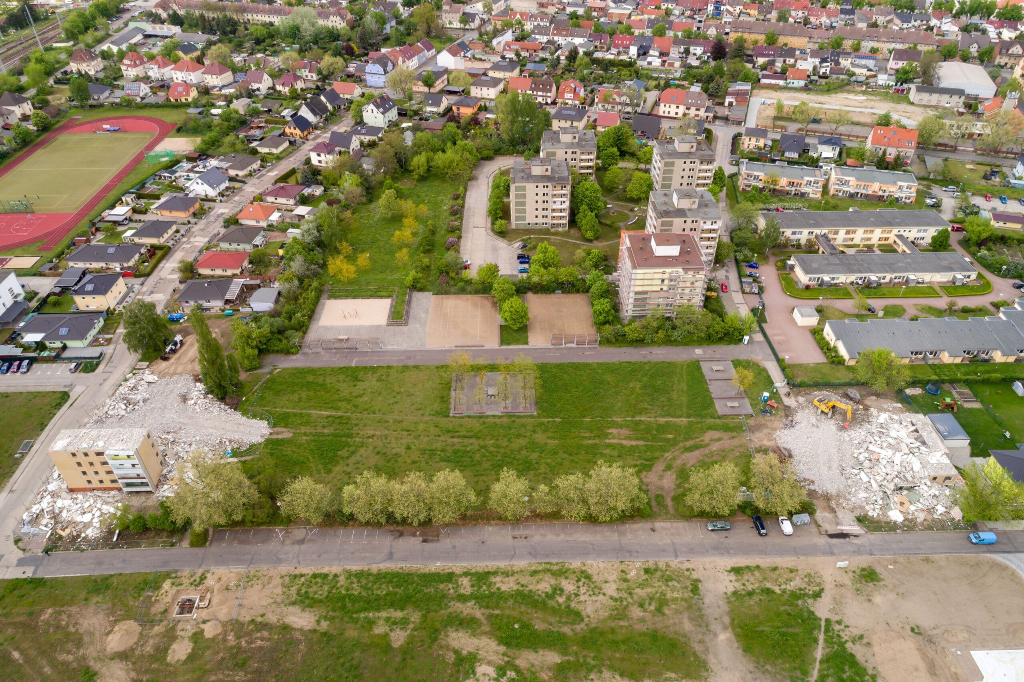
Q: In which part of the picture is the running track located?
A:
top left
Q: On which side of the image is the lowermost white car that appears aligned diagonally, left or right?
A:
right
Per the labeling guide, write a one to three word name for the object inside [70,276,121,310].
house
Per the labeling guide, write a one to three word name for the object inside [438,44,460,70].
house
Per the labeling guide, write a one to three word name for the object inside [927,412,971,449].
building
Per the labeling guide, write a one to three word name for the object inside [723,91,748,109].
shed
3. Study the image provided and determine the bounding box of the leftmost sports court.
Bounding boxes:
[426,295,500,347]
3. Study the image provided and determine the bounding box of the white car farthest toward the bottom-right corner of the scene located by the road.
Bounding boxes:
[776,515,797,536]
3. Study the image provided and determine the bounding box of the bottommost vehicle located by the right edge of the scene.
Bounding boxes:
[969,531,1000,544]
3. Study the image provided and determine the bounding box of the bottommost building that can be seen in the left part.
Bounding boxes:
[48,428,164,494]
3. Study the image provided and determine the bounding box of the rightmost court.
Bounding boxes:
[526,294,598,345]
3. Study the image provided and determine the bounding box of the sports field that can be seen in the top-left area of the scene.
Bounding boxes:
[0,132,158,213]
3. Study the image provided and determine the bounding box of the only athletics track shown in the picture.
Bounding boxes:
[0,120,170,252]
